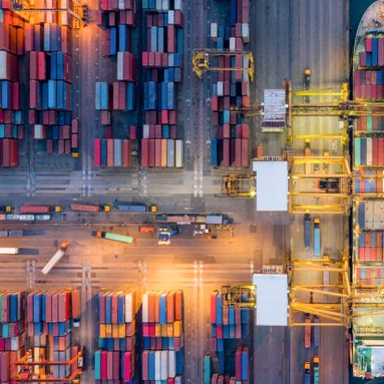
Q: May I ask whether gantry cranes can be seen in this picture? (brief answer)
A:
Yes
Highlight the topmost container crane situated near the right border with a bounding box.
[231,81,384,151]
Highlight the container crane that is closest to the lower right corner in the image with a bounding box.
[221,245,384,325]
